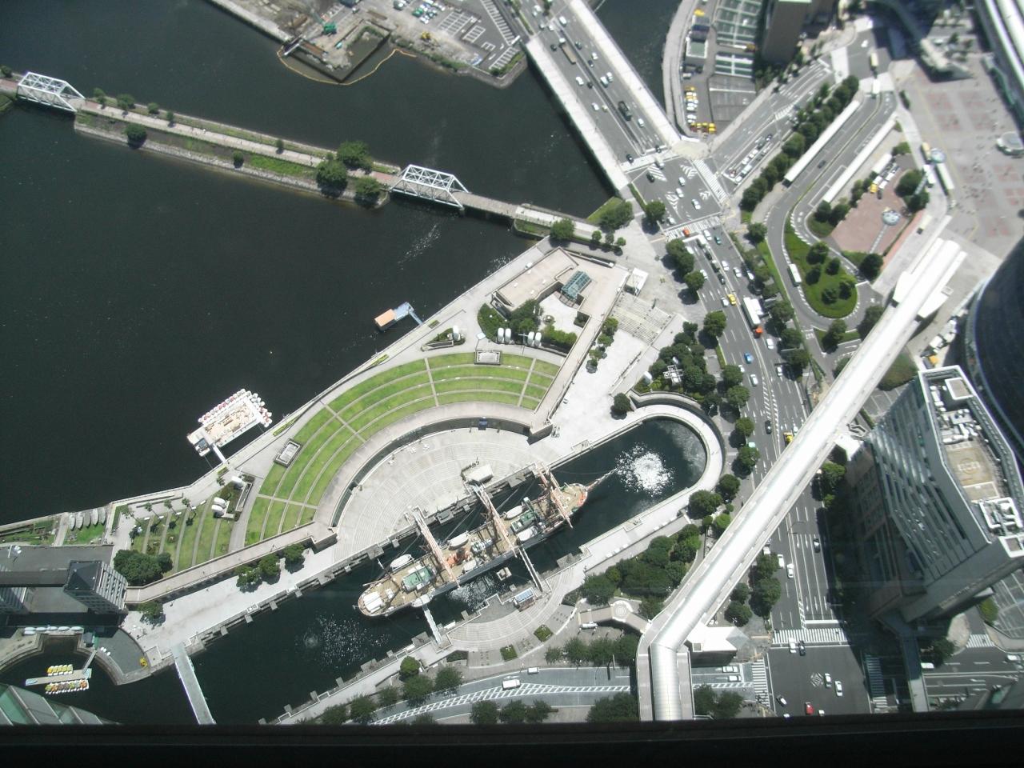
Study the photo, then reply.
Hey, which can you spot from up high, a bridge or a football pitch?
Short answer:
bridge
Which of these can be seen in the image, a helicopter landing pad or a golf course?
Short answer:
helicopter landing pad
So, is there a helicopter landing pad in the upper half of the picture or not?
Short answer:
No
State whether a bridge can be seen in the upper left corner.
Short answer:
Yes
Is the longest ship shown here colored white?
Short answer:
Yes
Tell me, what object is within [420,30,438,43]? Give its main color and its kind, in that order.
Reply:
yellow vehicle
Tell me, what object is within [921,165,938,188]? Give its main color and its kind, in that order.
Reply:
white vehicle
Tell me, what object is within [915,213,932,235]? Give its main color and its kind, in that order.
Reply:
white vehicle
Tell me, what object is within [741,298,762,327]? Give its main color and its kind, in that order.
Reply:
white bus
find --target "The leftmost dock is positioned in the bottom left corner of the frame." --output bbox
[25,655,95,686]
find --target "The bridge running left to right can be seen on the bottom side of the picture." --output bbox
[577,599,648,635]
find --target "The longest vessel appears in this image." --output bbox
[353,459,616,614]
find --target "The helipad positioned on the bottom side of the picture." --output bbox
[943,445,997,506]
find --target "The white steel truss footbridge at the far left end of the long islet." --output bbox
[12,75,86,114]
